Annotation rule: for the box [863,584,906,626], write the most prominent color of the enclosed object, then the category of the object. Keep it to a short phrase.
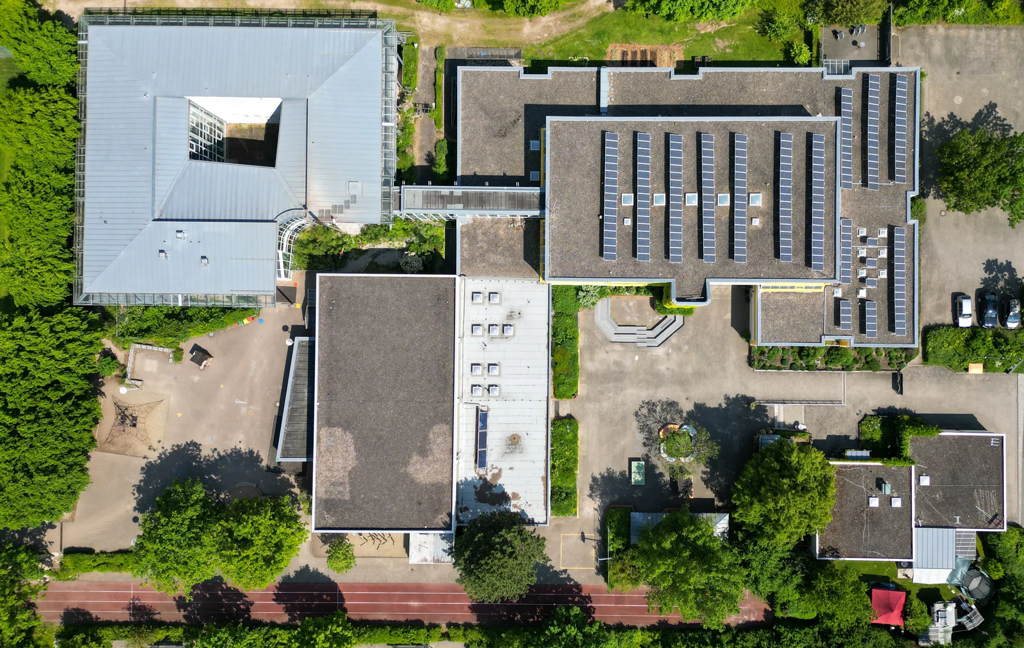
red gazebo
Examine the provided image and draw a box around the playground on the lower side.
[39,274,451,584]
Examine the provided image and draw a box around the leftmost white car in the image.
[954,294,974,327]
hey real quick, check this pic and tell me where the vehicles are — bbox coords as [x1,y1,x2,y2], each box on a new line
[978,292,1000,328]
[1001,297,1023,329]
[954,294,974,327]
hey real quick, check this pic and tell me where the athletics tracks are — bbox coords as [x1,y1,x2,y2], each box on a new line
[31,582,774,628]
